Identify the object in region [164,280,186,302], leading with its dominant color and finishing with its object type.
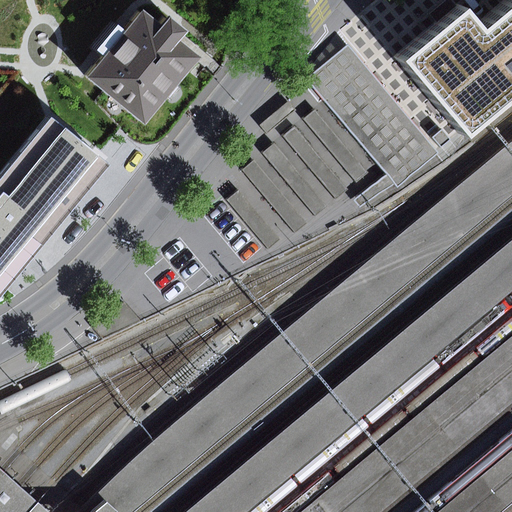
white car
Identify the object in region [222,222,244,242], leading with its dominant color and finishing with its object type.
white car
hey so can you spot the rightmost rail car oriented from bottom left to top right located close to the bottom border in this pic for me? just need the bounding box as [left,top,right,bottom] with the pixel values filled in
[438,426,512,502]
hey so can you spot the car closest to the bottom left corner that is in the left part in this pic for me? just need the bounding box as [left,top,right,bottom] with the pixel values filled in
[84,329,100,342]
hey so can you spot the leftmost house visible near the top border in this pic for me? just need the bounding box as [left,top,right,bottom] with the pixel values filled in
[86,10,201,124]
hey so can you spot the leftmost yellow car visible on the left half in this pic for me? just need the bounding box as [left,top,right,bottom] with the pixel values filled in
[125,149,144,172]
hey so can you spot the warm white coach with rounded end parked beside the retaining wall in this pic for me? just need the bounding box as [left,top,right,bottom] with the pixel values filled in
[0,371,72,412]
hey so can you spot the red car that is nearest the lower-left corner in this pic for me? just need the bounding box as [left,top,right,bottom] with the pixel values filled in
[155,269,176,289]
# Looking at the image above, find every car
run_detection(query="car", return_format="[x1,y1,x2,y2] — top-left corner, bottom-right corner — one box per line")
[214,210,236,230]
[230,231,252,252]
[125,149,144,172]
[238,240,260,262]
[84,329,100,342]
[222,222,244,242]
[155,269,176,289]
[180,258,202,279]
[62,222,82,242]
[164,238,187,259]
[208,200,229,221]
[164,280,186,302]
[172,248,194,268]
